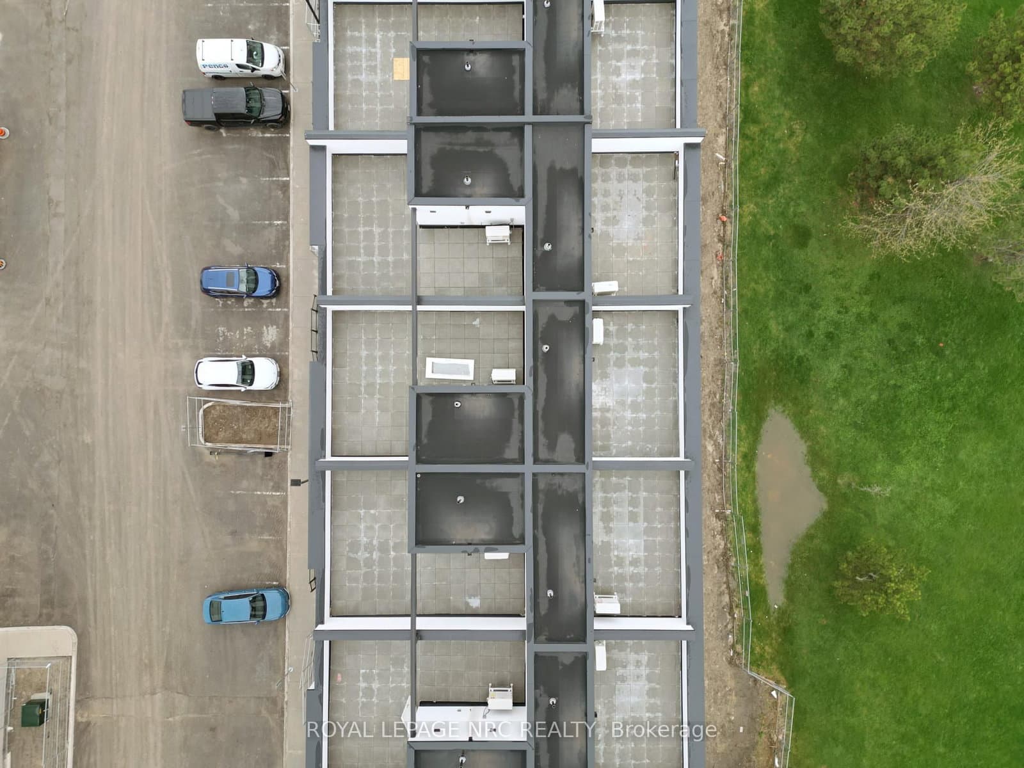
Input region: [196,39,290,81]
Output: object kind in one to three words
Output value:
van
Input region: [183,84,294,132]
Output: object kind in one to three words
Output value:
truck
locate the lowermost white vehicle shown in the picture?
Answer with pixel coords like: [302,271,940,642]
[192,354,283,395]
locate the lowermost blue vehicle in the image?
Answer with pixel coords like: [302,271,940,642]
[204,584,295,626]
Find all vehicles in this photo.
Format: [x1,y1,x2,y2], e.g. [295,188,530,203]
[192,354,283,395]
[196,39,290,81]
[204,584,295,626]
[199,263,284,302]
[183,84,294,132]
